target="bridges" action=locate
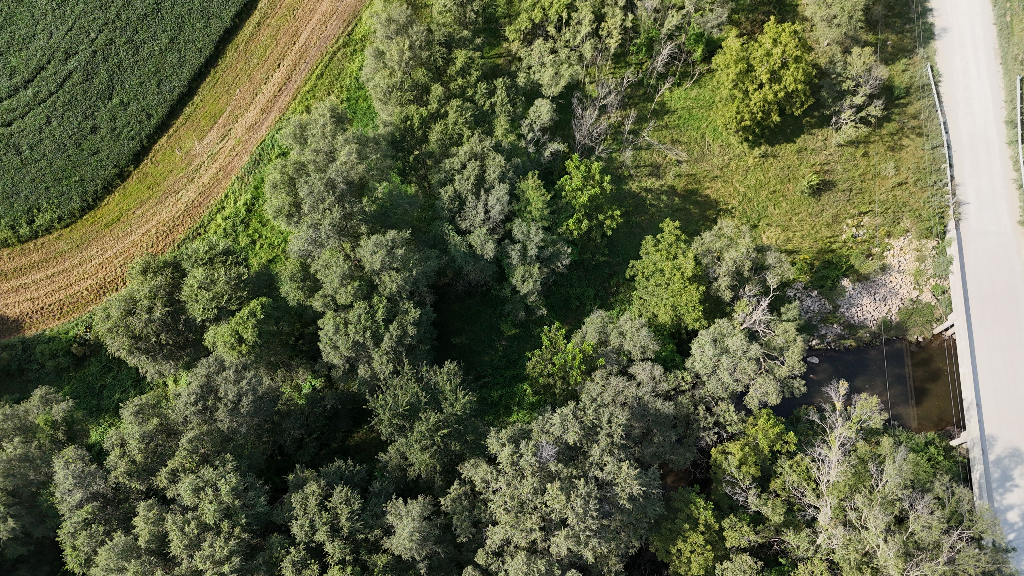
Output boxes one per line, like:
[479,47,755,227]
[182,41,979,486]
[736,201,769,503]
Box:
[934,209,999,570]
